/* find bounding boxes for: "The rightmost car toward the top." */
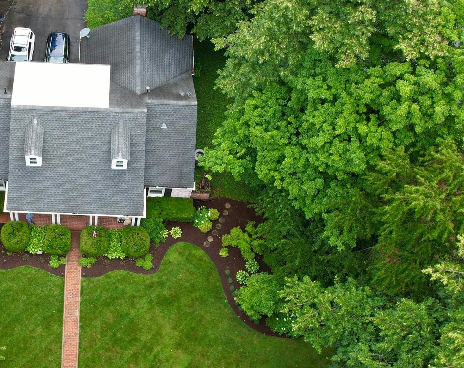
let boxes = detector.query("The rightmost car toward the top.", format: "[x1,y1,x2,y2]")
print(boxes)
[45,32,70,60]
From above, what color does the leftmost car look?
white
